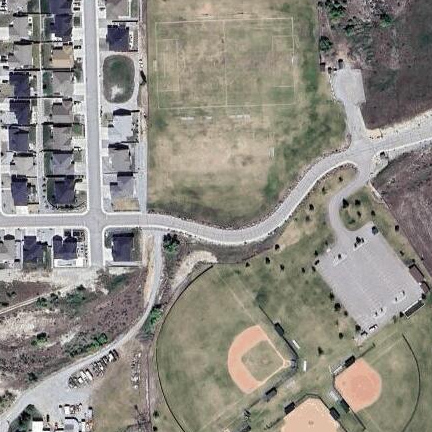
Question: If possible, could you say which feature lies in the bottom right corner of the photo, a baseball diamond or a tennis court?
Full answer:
Looking in the bottom right corner of the photo, you will find a baseball diamond.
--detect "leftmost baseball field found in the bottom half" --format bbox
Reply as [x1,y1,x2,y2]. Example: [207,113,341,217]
[227,325,290,394]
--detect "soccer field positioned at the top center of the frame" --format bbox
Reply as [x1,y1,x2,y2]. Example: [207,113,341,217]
[147,0,347,223]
